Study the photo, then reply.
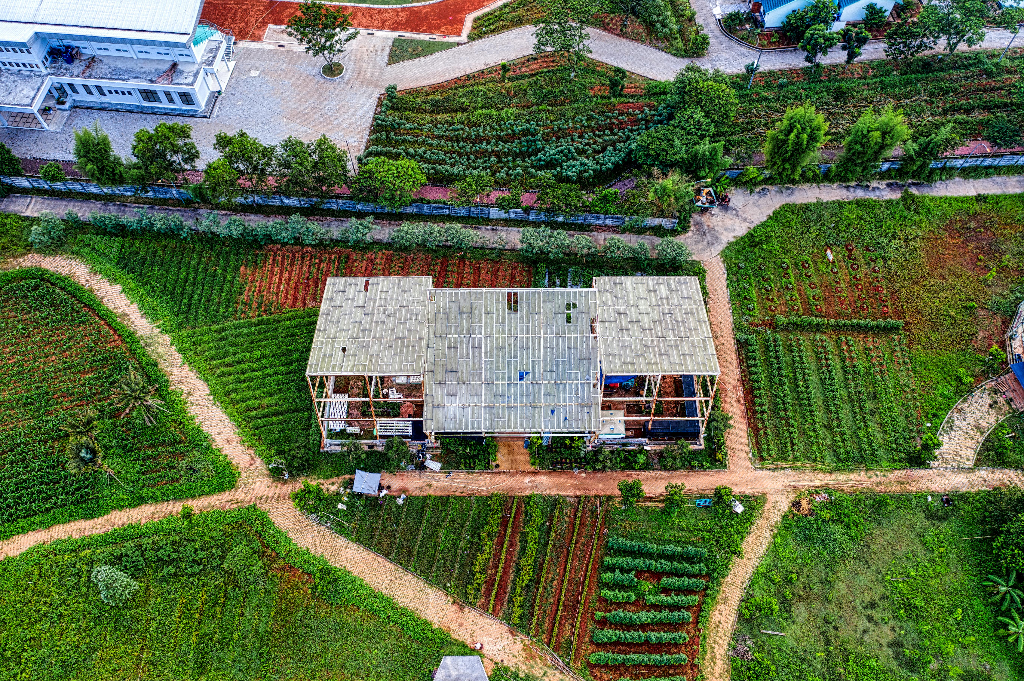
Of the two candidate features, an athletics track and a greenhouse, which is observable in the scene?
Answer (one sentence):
This aerial view contains a greenhouse.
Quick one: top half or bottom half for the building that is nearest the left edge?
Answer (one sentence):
The top half of the photo is where the building that is nearest the left edge is.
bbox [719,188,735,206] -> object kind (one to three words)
work vehicle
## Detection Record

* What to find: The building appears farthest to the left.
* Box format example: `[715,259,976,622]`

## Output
[0,0,240,133]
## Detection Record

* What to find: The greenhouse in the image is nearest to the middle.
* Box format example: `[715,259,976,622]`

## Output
[304,275,721,453]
